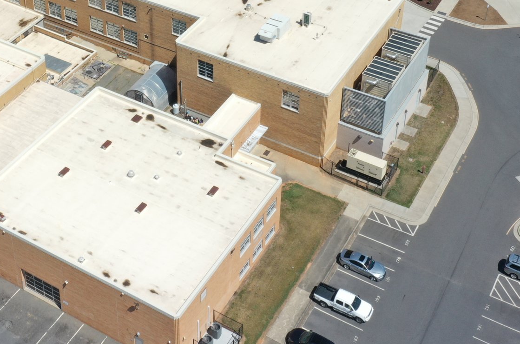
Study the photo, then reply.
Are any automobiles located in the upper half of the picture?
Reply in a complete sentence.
No, in the upper half of the picture there is no automobile.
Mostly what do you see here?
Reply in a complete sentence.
The scene is dominated by buildings.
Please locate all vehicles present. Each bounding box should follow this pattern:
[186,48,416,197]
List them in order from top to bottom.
[336,250,388,285]
[504,257,520,285]
[308,283,374,328]
[285,326,338,344]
